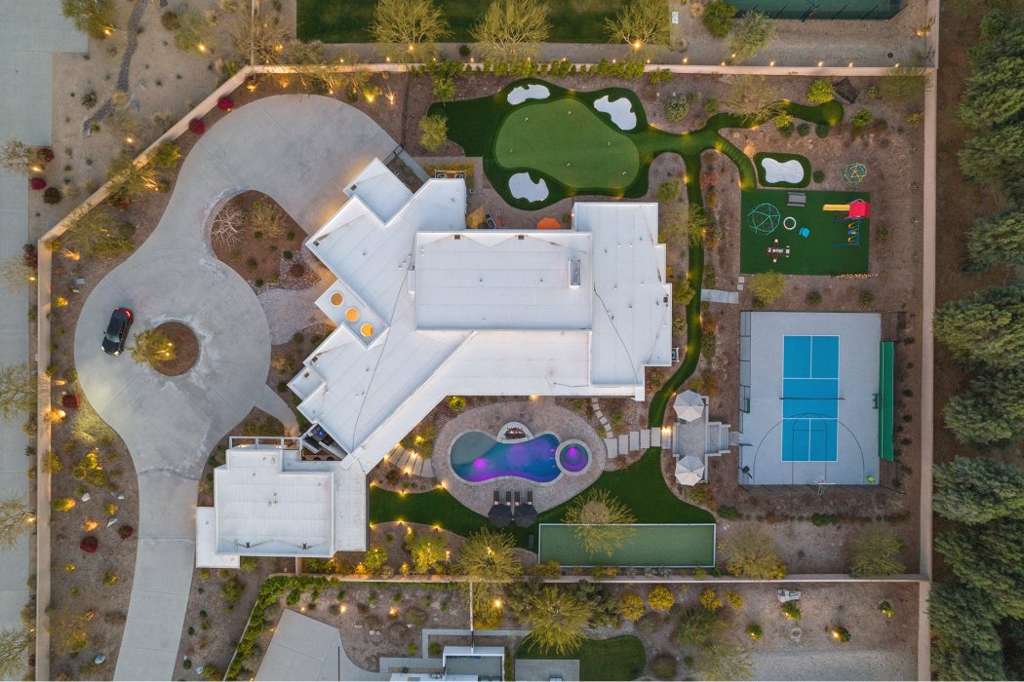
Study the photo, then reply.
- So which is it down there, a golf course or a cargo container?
golf course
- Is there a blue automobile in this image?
No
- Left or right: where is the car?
left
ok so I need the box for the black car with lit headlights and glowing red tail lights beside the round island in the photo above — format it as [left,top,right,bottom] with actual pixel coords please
[102,308,133,355]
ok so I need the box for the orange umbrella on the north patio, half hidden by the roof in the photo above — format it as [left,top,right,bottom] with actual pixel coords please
[537,214,561,233]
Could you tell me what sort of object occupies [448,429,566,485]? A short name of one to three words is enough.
swimming pool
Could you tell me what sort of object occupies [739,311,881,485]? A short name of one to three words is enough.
sports court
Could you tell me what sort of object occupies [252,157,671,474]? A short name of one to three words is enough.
house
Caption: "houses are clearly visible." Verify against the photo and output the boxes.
[252,157,671,474]
[391,646,504,682]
